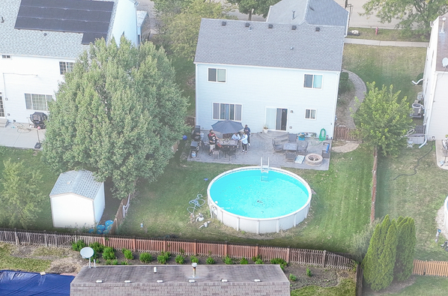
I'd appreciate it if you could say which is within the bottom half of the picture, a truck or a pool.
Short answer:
pool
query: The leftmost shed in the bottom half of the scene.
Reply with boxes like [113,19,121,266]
[47,172,102,226]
